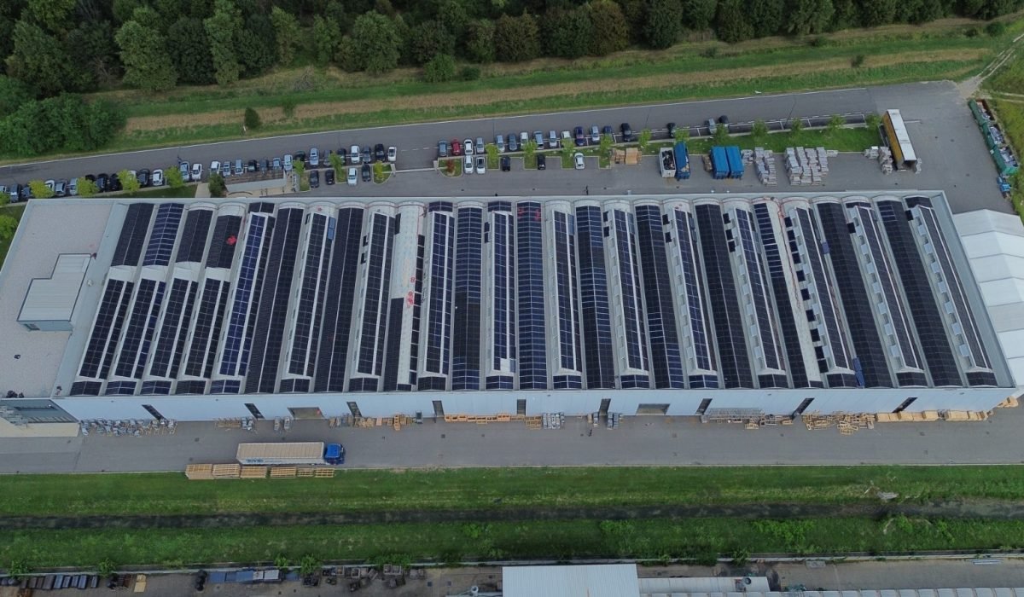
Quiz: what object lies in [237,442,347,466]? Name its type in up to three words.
truck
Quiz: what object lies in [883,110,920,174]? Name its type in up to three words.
trailer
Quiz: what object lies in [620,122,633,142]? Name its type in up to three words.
vehicle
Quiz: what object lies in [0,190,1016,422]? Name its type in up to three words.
building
